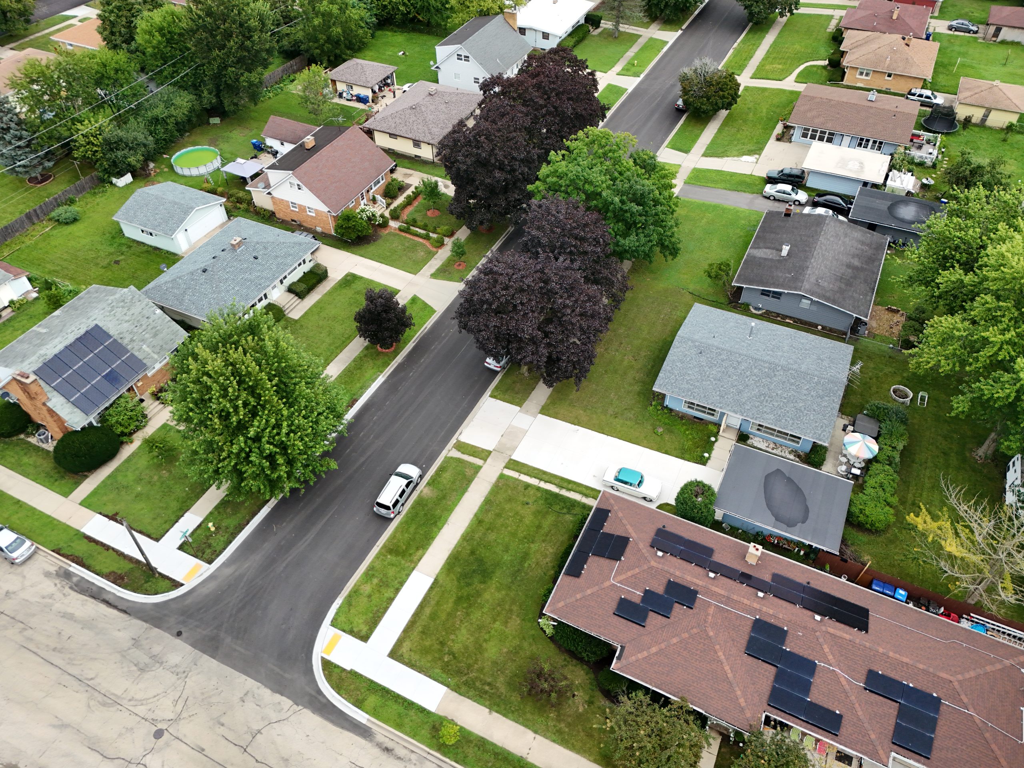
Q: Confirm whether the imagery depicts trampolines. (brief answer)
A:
Yes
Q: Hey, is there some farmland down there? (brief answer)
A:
No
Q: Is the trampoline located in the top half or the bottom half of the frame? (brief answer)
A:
top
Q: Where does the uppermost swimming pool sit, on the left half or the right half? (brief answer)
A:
left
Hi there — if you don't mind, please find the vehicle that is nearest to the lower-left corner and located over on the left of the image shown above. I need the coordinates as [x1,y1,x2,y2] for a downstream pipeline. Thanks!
[0,530,31,567]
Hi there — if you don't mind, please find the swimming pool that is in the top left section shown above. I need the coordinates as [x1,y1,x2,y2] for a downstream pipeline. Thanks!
[177,149,224,178]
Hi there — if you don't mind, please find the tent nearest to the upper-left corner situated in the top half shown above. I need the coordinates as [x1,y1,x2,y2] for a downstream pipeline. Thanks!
[222,157,268,191]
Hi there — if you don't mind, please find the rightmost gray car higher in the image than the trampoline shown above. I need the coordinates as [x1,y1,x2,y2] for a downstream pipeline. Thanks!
[947,19,982,33]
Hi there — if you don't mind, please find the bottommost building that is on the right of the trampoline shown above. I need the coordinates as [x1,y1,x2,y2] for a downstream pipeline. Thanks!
[955,77,1024,132]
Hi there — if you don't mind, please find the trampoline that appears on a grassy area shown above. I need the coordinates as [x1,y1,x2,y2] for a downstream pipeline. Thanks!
[920,105,960,138]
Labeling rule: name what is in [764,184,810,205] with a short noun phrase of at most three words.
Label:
car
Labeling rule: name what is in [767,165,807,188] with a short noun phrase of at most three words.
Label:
car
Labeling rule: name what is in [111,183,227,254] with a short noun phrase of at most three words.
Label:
building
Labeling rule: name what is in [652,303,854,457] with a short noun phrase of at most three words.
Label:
house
